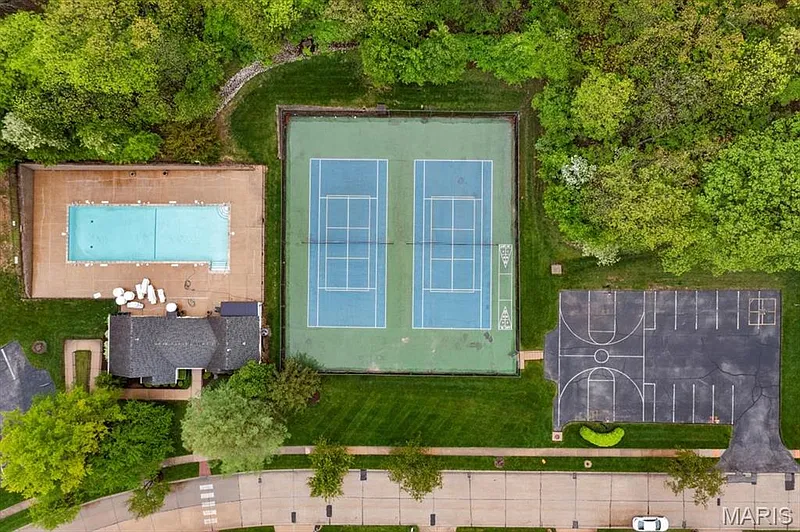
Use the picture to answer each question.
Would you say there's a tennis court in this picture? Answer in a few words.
Yes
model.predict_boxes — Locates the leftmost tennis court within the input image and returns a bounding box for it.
[301,159,394,328]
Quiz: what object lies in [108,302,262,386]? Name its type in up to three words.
building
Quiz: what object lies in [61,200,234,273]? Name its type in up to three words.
swimming pool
